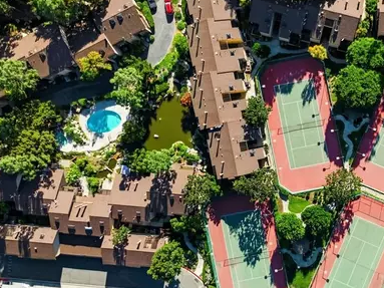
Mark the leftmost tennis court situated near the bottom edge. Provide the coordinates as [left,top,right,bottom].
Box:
[208,190,286,288]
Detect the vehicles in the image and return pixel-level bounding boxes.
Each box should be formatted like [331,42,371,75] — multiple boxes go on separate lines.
[146,0,155,11]
[164,0,173,14]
